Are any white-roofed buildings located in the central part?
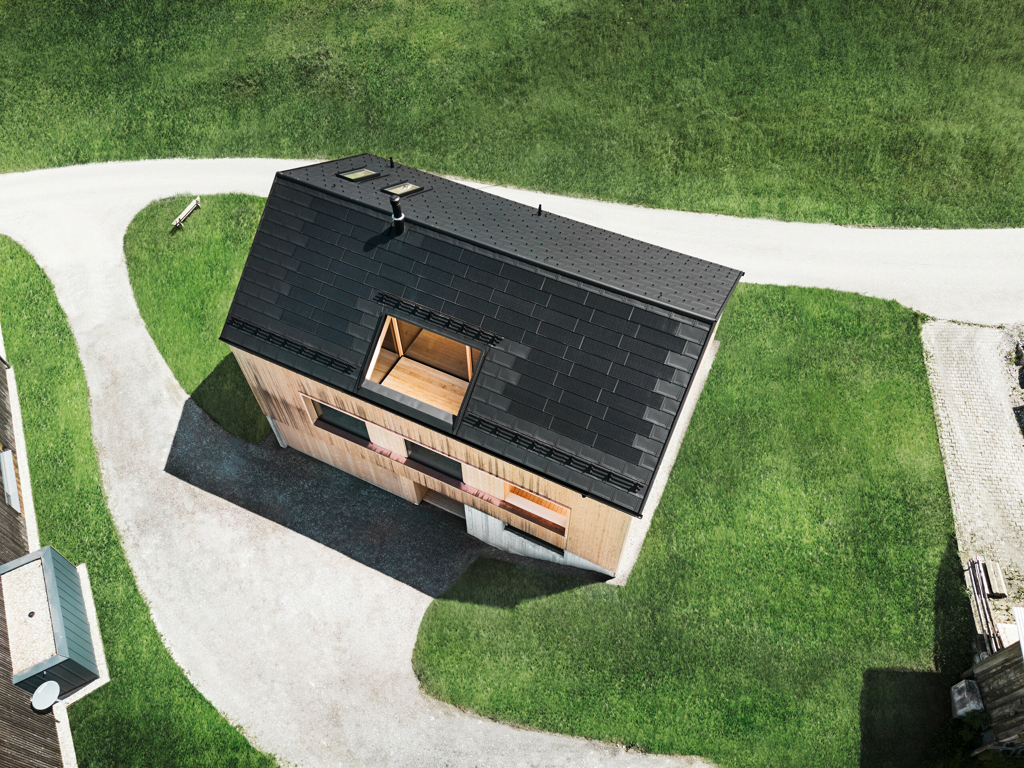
No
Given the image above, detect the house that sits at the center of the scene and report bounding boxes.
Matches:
[216,151,746,575]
